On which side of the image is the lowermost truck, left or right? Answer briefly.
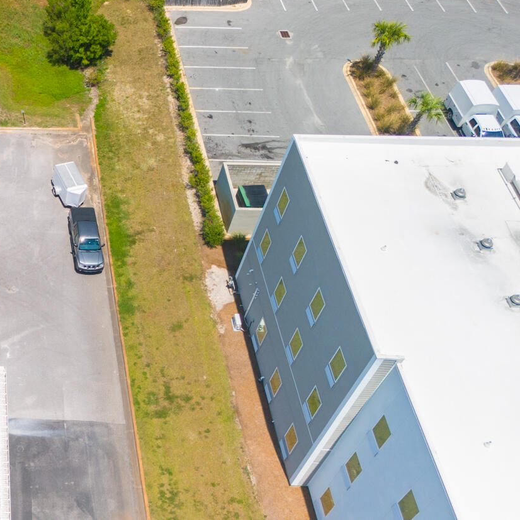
left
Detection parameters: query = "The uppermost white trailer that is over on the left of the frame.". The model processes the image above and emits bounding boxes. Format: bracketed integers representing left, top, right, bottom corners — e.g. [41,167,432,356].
[50,157,89,205]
